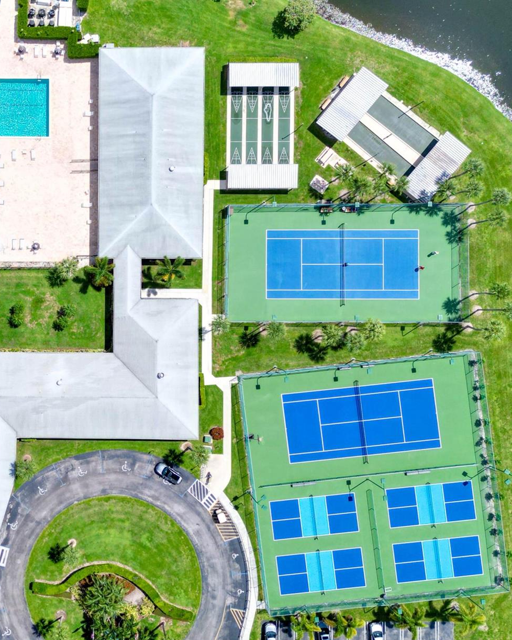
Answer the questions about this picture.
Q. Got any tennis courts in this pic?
Yes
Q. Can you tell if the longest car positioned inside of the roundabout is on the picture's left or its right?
left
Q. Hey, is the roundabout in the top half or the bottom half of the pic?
bottom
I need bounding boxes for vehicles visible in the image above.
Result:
[215,508,227,526]
[153,463,184,485]
[263,621,277,640]
[317,620,330,640]
[369,621,384,640]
